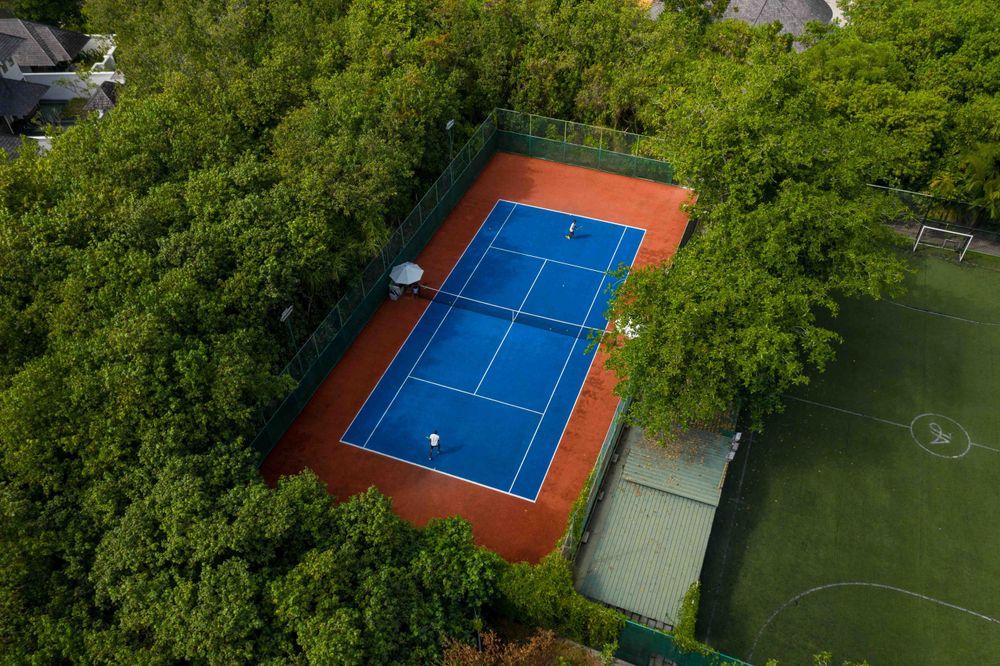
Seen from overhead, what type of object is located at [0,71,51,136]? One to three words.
house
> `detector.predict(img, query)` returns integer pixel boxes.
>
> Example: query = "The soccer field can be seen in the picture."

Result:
[696,229,1000,666]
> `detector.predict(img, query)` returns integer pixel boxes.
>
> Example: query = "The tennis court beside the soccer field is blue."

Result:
[255,152,697,631]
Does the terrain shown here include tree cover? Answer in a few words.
Yes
